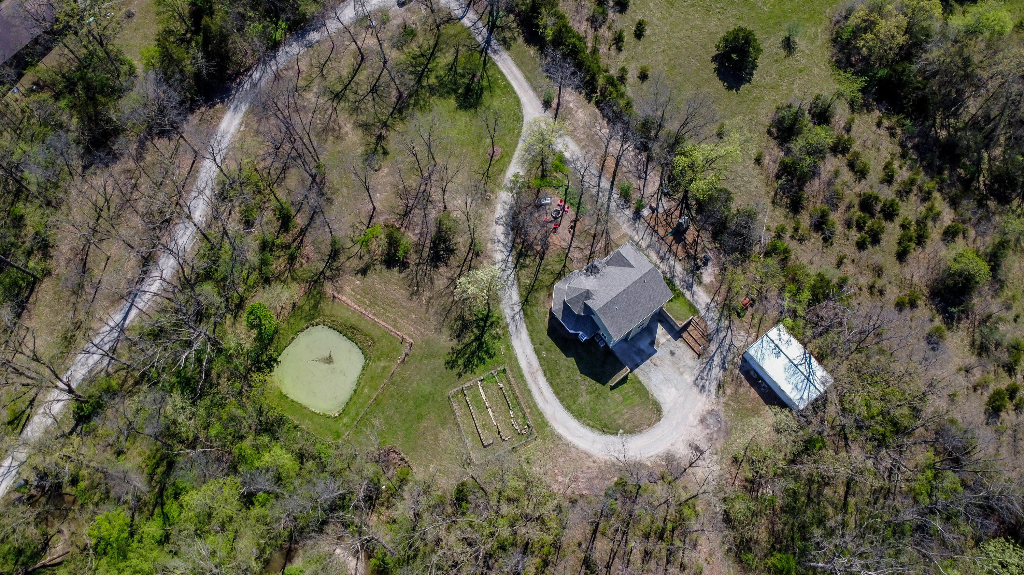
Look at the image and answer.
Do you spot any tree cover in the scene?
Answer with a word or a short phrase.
Yes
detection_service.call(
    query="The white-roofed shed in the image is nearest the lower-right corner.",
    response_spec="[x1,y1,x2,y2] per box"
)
[743,323,833,411]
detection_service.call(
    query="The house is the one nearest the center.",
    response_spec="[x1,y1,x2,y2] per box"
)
[552,240,674,348]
